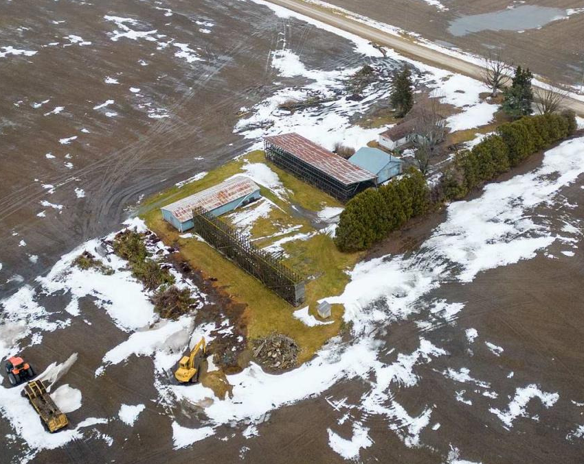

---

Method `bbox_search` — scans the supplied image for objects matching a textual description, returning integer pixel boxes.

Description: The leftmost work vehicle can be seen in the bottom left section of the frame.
[6,357,39,388]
